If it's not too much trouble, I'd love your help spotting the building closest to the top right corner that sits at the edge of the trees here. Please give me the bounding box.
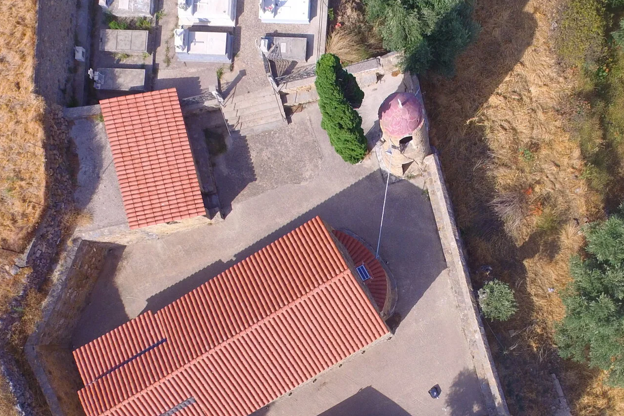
[369,101,428,189]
